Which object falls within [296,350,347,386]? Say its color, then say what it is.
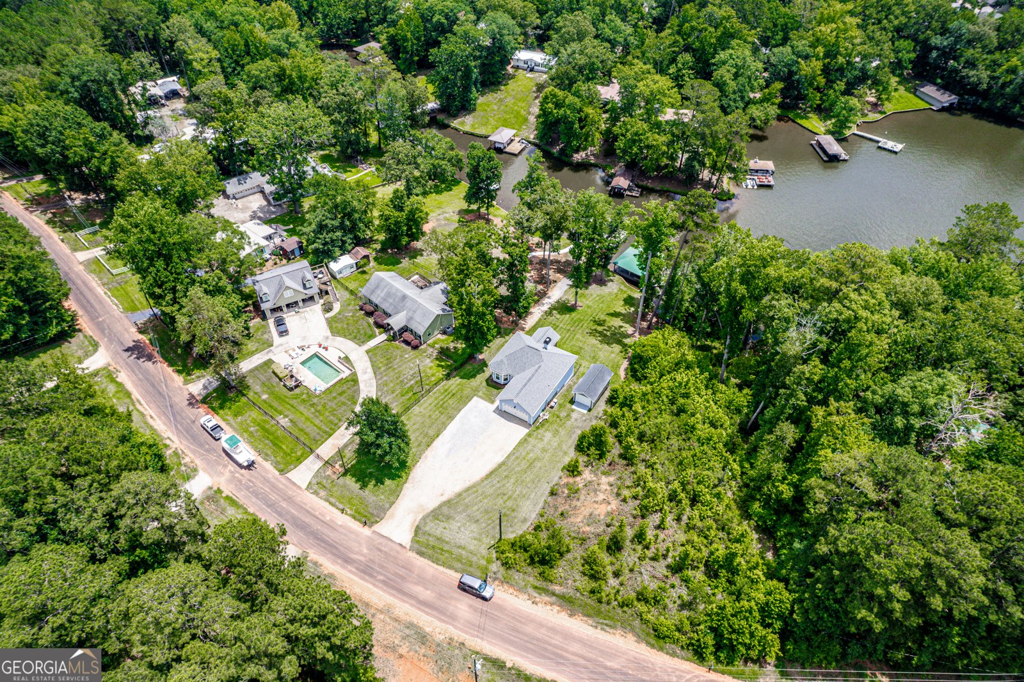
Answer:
white swimming pool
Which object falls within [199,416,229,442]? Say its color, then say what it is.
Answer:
white truck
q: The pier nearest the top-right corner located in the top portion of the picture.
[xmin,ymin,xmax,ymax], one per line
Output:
[851,132,923,159]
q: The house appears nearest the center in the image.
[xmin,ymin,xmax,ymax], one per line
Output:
[487,326,583,425]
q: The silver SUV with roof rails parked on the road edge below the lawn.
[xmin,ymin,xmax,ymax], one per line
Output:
[456,570,495,602]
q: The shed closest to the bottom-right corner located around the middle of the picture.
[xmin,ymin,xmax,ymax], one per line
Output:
[572,366,612,414]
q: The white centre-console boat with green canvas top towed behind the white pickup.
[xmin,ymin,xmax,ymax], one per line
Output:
[221,434,262,473]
